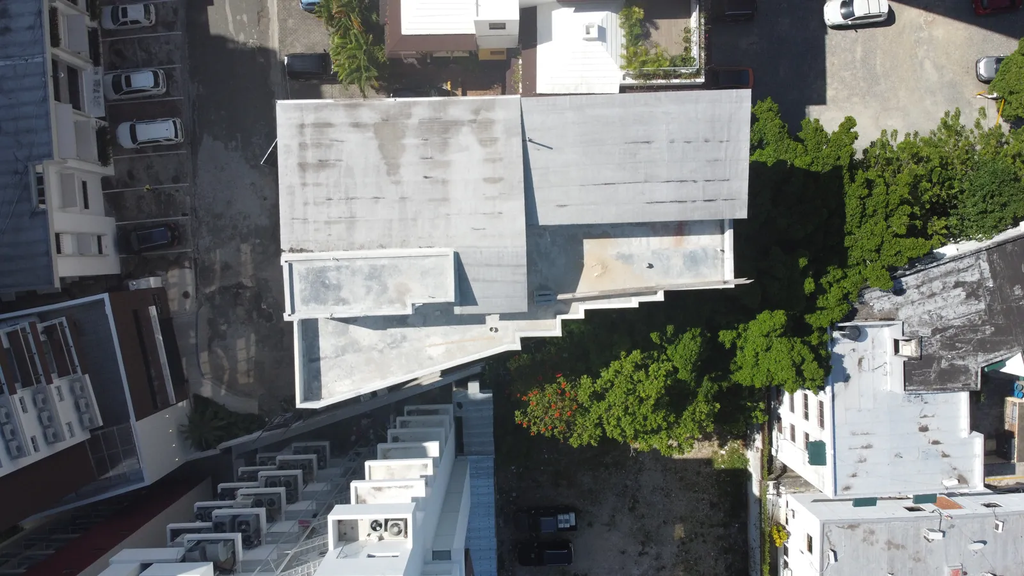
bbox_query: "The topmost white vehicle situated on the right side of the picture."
[819,0,888,30]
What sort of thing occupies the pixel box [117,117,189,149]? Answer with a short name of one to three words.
car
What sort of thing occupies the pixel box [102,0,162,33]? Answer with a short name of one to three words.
car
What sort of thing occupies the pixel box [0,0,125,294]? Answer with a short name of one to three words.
building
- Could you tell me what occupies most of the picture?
buildings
